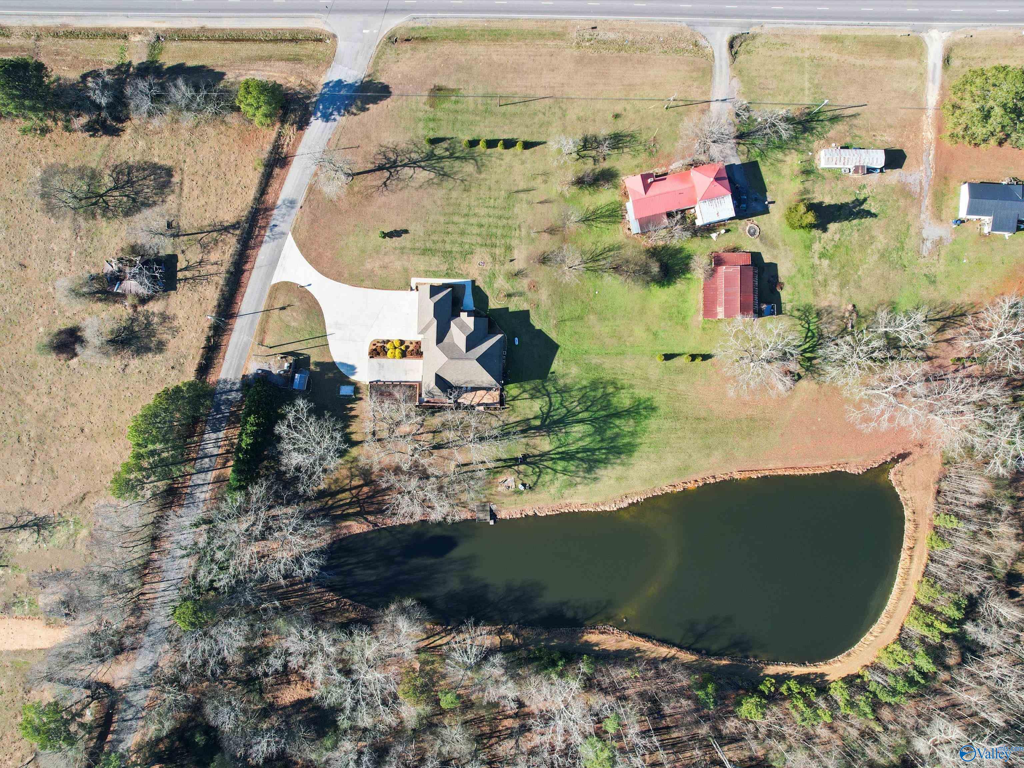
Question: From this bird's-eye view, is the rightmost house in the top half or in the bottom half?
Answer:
top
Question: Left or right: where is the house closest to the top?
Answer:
right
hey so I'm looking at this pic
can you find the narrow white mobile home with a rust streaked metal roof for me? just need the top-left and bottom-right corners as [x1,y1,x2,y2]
[820,149,885,176]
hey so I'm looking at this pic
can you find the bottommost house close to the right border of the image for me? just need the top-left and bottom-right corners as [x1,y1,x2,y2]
[961,183,1024,233]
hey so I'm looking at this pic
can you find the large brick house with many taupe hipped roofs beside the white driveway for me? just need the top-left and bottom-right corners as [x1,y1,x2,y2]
[418,283,503,397]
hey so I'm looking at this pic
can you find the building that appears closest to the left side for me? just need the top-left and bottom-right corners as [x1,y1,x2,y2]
[102,254,170,294]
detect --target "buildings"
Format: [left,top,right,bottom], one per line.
[624,162,735,234]
[418,283,503,397]
[703,266,758,319]
[293,374,309,390]
[102,254,170,294]
[961,183,1024,233]
[820,149,885,176]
